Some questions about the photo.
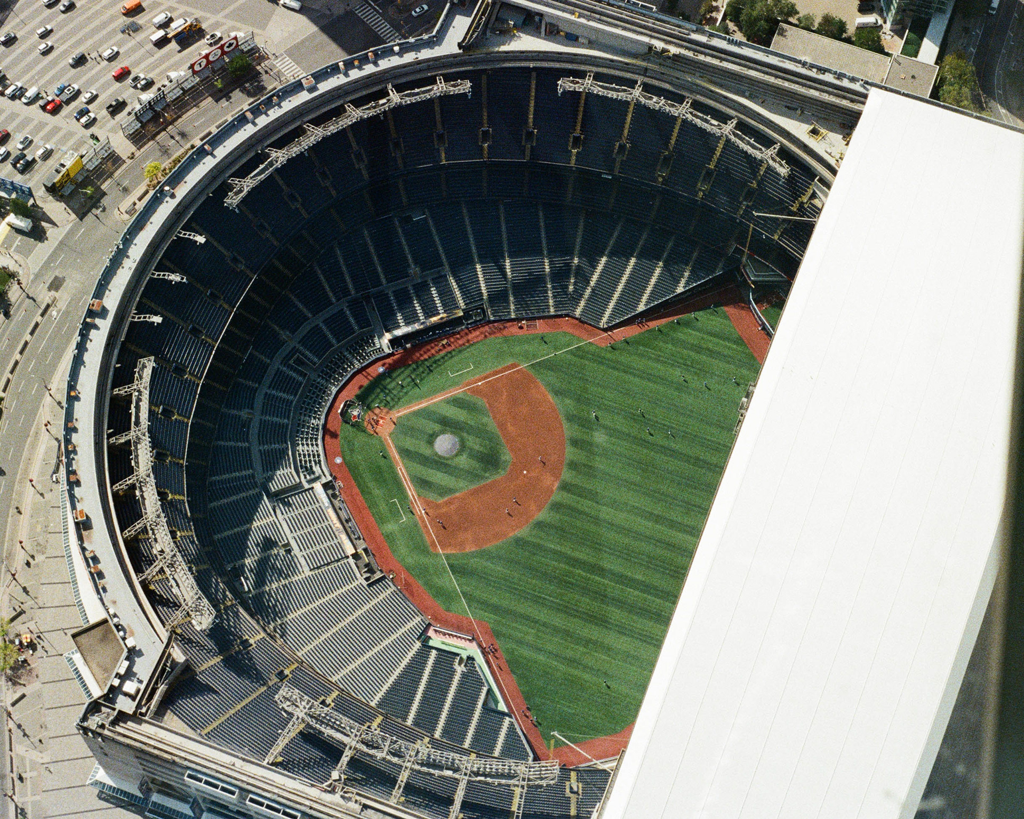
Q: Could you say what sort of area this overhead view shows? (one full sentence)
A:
This looks like a sports ground.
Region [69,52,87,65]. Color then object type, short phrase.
gray vehicle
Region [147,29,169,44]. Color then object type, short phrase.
white vehicle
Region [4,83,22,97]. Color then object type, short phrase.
white car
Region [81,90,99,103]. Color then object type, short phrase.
white vehicle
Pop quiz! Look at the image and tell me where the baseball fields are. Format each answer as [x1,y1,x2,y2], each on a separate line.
[323,269,769,767]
